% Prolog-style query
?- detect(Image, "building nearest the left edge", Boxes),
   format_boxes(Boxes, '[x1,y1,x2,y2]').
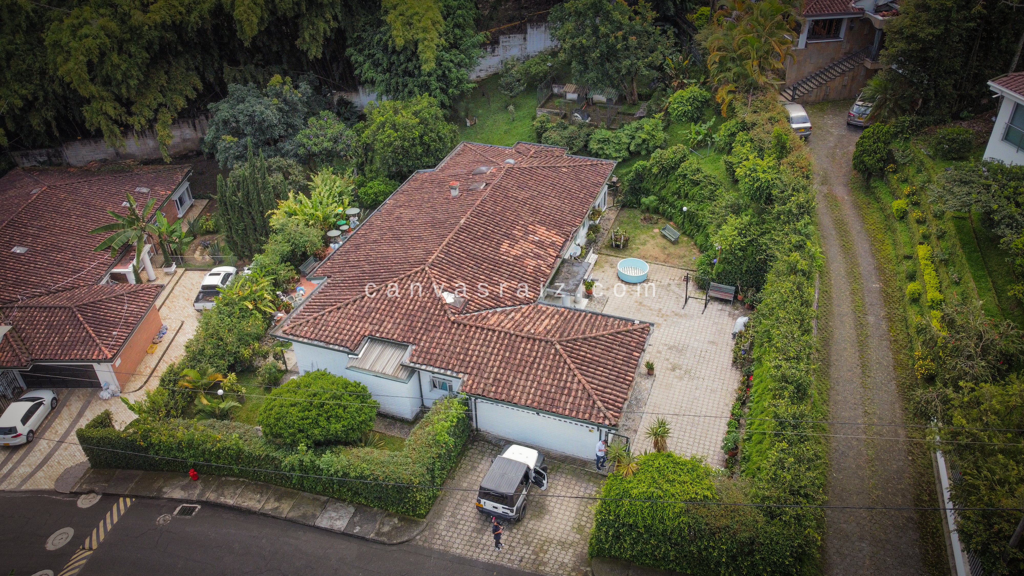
[0,167,201,399]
